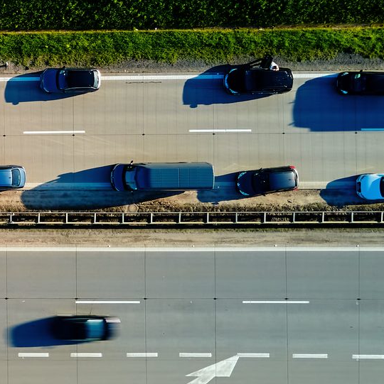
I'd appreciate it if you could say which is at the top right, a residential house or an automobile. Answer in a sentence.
The one visible at the top right is an automobile.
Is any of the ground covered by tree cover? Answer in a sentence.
No, tree cover can't be seen anywhere here.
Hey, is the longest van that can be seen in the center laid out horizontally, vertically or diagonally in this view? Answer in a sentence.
I'd say the longest van that can be seen in the center is aligned horizontally in the picture.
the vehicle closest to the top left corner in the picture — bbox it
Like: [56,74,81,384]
[40,64,101,94]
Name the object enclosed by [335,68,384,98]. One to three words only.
car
